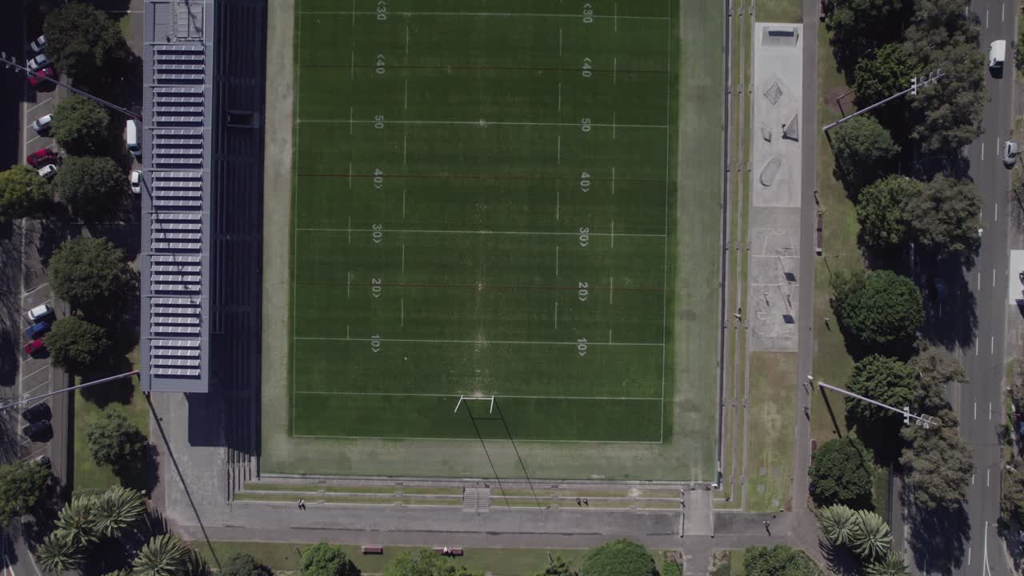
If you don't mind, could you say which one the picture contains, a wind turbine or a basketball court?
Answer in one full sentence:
I can see a basketball court in this picture.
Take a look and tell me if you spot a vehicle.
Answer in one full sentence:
Yes, there's a vehicle down there.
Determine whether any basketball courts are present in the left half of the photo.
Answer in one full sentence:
No, no basketball court is visible in the left half of the photo.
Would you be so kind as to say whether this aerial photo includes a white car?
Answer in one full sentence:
Yes, a white car can be made out from above.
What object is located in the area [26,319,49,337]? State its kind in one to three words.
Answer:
car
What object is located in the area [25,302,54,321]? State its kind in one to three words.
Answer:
car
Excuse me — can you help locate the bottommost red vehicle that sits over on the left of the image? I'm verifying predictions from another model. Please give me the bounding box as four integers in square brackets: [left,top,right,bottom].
[24,336,45,354]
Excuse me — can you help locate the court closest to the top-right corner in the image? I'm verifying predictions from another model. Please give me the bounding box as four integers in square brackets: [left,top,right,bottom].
[752,206,801,287]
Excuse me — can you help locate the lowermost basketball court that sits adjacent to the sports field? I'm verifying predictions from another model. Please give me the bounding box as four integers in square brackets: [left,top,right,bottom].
[751,284,800,351]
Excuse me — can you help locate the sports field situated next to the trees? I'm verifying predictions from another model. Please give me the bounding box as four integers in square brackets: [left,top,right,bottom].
[259,0,728,483]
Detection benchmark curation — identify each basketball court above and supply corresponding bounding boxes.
[751,284,800,351]
[752,206,801,287]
